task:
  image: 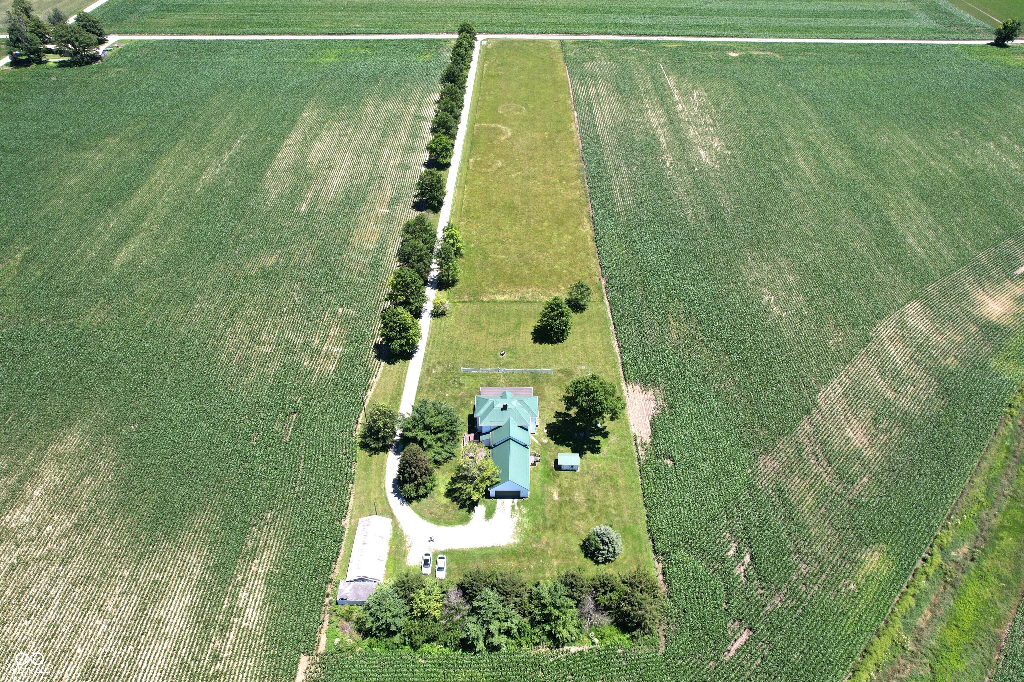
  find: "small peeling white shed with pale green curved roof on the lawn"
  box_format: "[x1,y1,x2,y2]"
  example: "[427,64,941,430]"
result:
[558,453,580,470]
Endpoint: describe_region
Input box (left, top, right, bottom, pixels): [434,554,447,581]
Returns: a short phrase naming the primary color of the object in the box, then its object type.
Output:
white vehicle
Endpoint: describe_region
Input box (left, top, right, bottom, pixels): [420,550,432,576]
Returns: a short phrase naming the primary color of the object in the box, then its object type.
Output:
white vehicle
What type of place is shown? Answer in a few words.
farmland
